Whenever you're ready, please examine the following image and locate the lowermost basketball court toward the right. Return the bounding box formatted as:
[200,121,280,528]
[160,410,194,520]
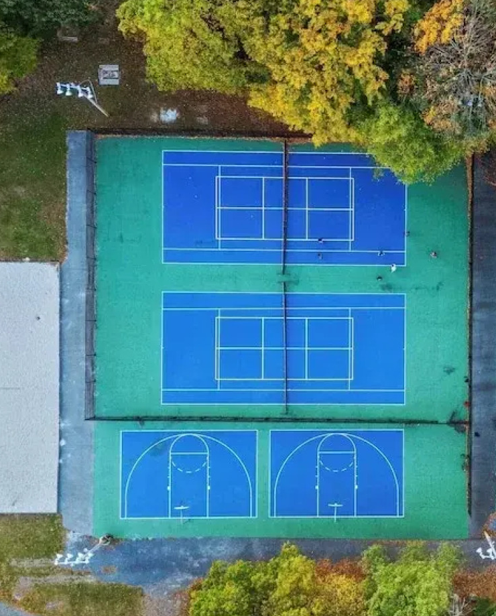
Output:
[263,419,468,540]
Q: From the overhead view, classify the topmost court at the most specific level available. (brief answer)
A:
tennis court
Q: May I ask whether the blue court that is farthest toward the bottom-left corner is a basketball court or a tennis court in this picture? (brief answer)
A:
basketball court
